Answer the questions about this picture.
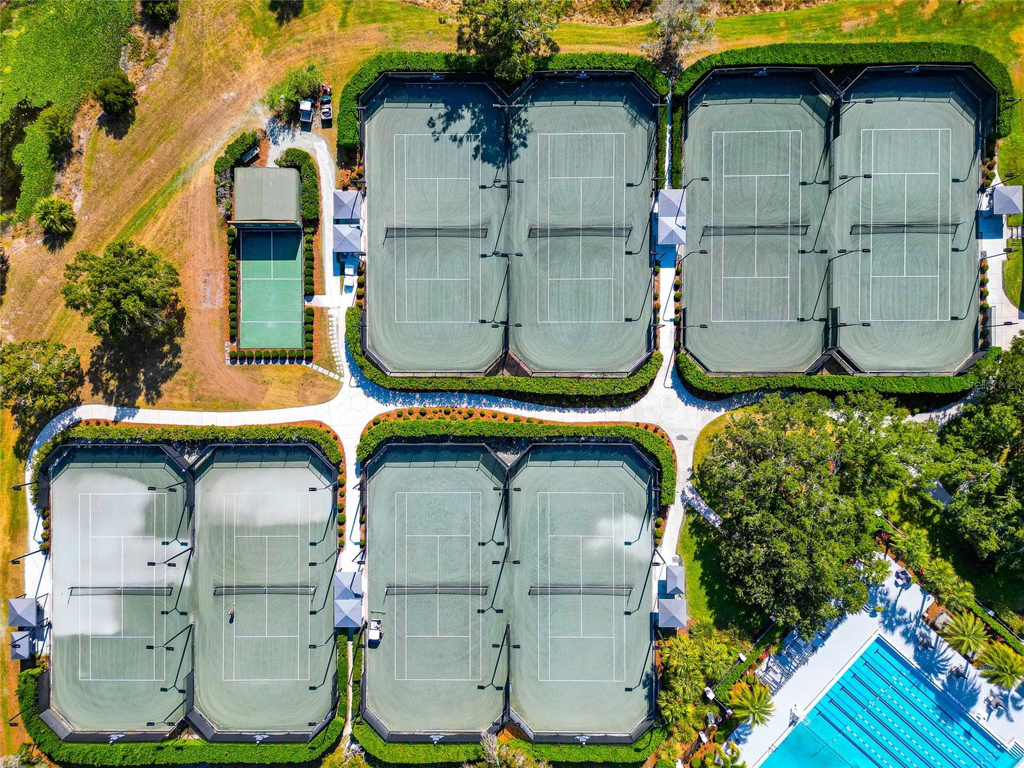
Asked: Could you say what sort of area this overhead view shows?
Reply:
sports ground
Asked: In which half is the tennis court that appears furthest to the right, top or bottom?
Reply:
top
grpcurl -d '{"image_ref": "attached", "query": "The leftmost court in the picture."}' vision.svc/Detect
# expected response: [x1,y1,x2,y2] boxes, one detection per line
[50,444,194,732]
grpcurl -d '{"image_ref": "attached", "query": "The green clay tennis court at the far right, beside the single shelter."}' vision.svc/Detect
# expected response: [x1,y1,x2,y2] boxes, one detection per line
[831,77,982,372]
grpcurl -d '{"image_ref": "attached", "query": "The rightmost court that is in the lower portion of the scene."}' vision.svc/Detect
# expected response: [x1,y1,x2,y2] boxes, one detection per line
[510,443,654,733]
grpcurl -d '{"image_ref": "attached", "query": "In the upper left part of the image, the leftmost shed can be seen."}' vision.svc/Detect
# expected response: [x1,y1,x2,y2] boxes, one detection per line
[236,167,306,222]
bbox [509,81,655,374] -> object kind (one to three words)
tennis court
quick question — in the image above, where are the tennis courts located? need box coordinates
[509,81,655,374]
[831,77,982,372]
[50,444,194,732]
[365,82,509,374]
[194,445,340,732]
[366,441,510,732]
[510,443,654,733]
[682,79,831,372]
